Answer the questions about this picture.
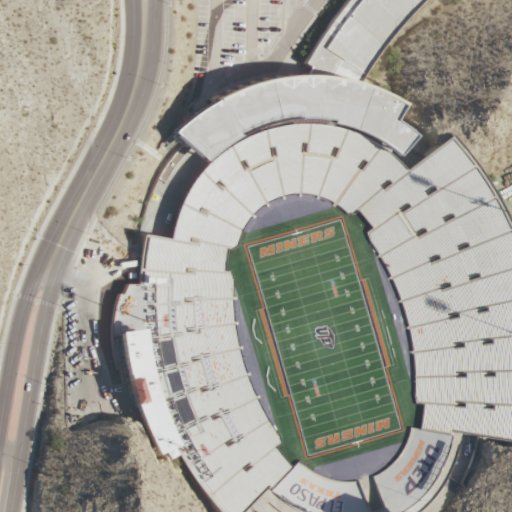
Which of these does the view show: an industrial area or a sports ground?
sports ground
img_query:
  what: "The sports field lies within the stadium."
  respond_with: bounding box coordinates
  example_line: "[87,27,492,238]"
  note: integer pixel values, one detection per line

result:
[226,206,425,469]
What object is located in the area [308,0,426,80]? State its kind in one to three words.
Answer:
building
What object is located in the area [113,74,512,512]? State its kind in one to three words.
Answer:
stadium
